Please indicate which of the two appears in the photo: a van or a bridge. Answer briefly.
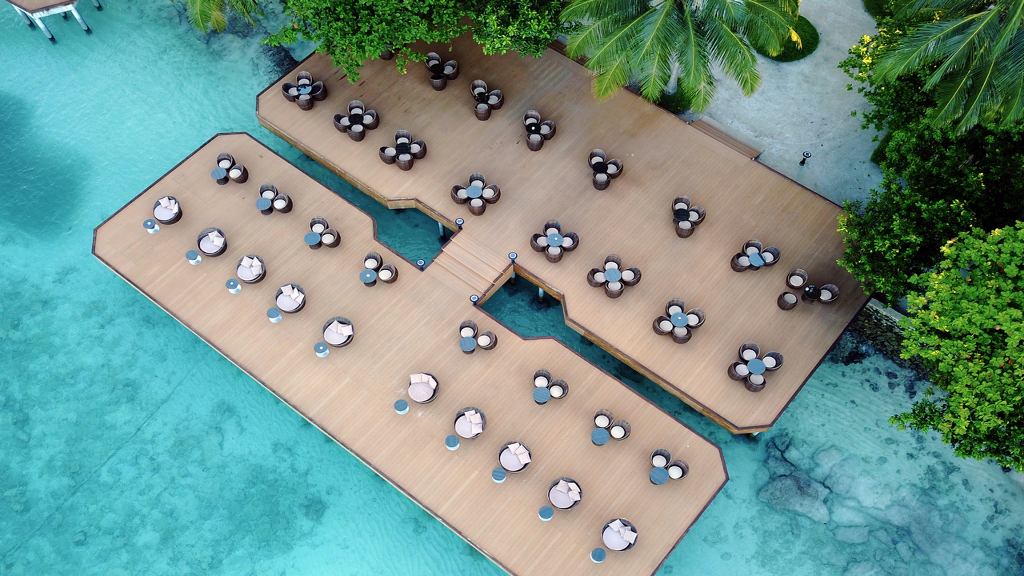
bridge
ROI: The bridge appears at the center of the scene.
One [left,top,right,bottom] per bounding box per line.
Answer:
[421,228,512,307]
